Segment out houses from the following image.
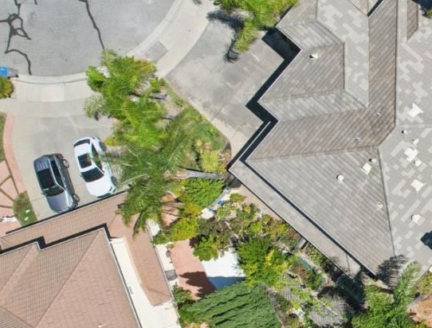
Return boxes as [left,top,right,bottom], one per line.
[0,188,192,328]
[228,0,432,289]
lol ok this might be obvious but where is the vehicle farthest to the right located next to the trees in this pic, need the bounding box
[73,137,115,200]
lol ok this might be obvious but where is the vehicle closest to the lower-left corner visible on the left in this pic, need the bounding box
[31,152,77,215]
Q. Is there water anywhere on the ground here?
No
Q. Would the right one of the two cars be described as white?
Yes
